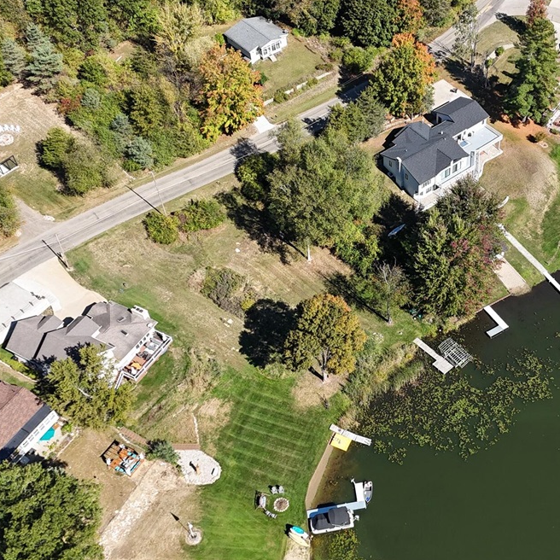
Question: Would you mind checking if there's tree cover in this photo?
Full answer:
Yes, the picture does contain tree cover.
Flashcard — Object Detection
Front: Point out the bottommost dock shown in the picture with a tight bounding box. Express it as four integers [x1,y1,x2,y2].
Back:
[306,481,367,516]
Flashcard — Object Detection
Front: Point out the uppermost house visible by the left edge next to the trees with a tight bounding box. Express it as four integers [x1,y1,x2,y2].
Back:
[6,301,175,389]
